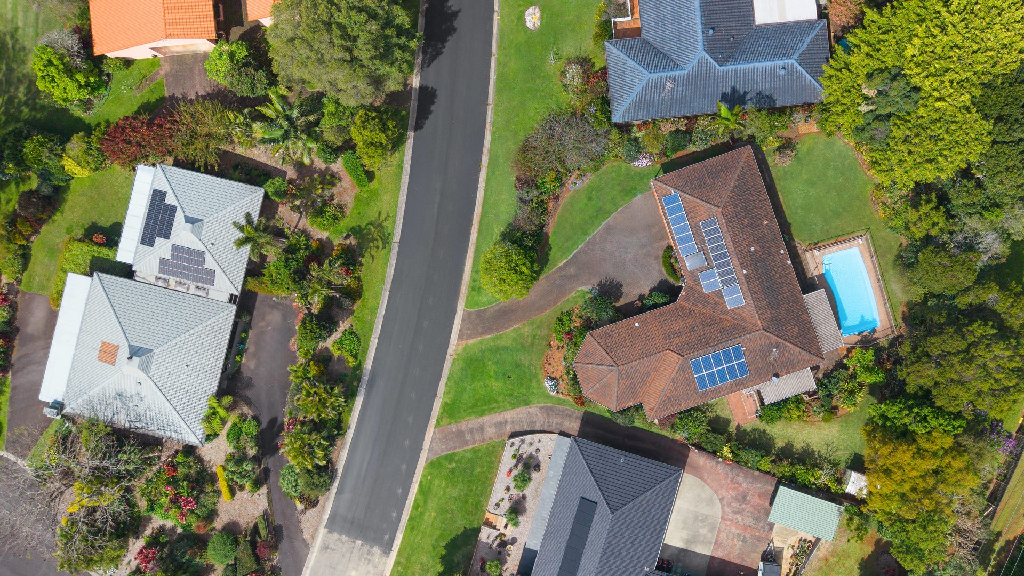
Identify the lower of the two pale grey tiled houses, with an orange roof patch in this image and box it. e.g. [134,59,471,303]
[39,271,241,447]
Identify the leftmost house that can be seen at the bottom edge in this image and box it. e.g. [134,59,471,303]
[515,433,702,576]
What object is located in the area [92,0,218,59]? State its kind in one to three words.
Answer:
house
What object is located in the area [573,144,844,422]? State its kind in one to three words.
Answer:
house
